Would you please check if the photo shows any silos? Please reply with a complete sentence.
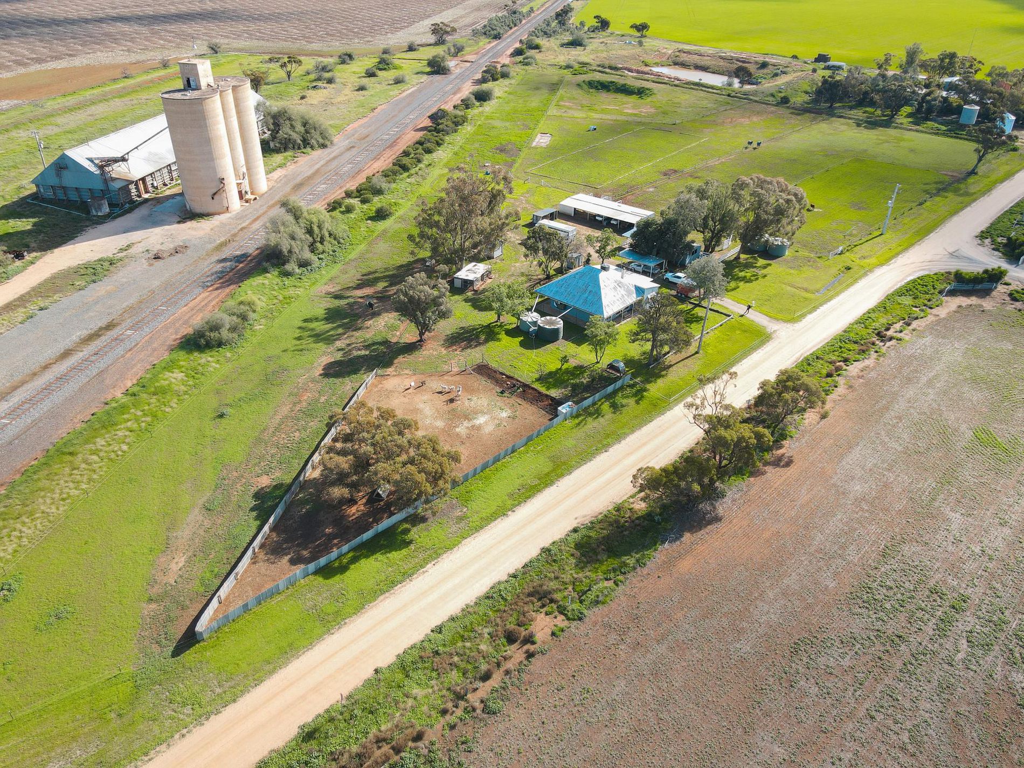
Yes, there is a silo in the image.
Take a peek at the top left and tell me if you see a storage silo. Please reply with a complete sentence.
Yes, there is a storage silo at the top left.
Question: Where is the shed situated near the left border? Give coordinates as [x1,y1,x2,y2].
[31,119,178,208]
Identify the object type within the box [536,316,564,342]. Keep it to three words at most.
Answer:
water tank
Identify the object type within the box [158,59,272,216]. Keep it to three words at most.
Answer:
silo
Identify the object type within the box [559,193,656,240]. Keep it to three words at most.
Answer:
shed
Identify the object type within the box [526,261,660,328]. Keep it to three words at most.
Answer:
house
